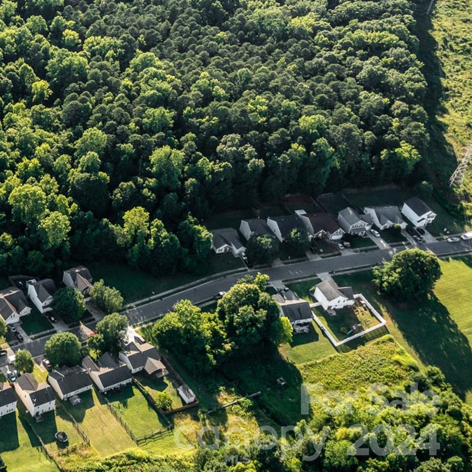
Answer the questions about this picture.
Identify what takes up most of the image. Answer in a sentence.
Most of the picture is covered by trees.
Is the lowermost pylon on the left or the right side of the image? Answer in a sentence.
The lowermost pylon sits on the right side.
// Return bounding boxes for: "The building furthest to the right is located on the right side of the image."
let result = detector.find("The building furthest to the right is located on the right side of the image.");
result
[401,196,438,226]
